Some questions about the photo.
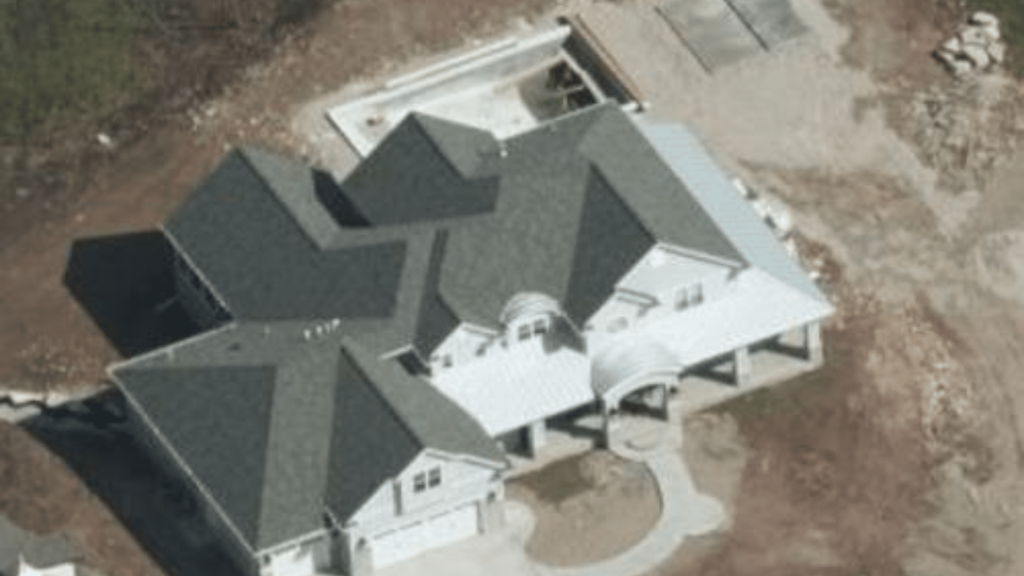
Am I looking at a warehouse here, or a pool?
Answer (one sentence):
Visible in the photo is a pool.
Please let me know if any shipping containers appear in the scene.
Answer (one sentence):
No, there is no shipping container in the image.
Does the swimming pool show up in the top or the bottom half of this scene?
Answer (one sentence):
Seen from above, the swimming pool lies in the top half of the view.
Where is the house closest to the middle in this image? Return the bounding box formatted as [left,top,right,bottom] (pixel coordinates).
[107,97,836,576]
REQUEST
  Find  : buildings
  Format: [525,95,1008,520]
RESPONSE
[107,97,836,576]
[0,510,72,576]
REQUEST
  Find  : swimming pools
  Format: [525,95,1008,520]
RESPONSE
[330,27,606,161]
